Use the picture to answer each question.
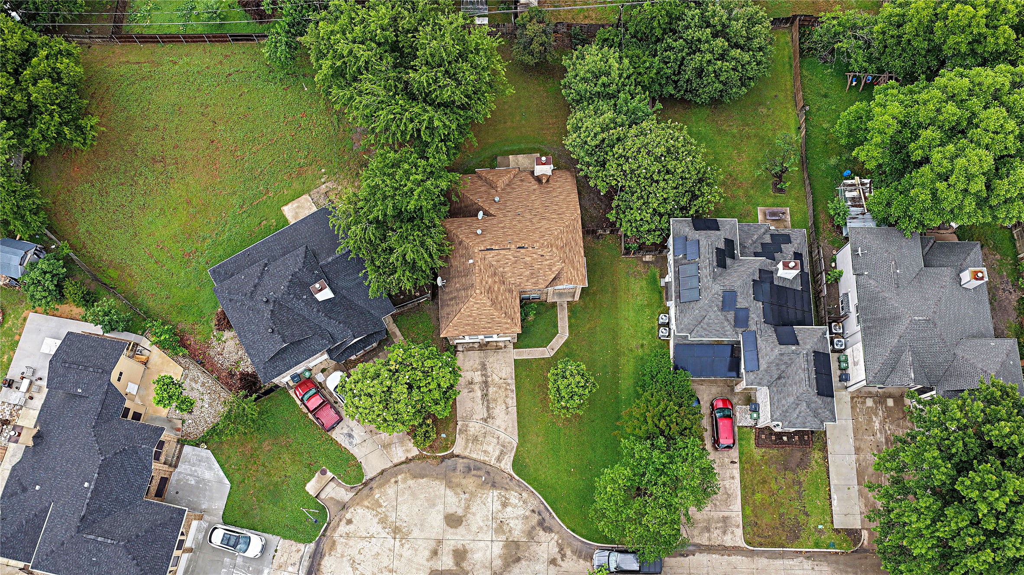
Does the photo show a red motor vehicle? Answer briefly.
Yes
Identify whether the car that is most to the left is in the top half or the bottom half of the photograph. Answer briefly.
bottom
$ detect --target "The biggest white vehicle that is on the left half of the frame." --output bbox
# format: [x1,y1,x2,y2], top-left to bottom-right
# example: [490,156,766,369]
[202,521,270,560]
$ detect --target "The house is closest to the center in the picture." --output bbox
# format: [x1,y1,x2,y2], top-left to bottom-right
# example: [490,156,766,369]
[438,156,588,345]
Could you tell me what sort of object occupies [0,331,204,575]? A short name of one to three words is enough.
house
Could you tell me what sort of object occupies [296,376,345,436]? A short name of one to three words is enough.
truck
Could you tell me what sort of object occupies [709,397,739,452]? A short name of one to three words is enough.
car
